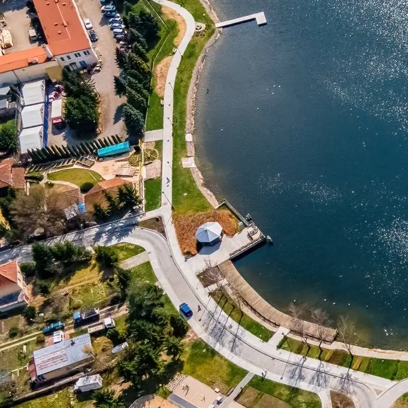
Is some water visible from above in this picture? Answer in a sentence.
Yes, there's water in this view.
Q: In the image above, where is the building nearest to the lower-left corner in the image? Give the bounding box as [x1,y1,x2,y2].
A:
[34,332,100,383]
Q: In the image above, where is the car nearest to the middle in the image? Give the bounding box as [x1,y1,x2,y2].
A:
[179,300,193,318]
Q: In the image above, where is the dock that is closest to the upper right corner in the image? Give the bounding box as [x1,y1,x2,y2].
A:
[217,12,268,28]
